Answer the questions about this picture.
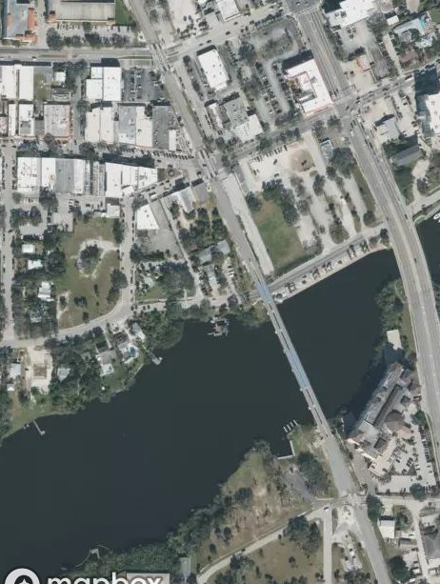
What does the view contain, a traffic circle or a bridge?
bridge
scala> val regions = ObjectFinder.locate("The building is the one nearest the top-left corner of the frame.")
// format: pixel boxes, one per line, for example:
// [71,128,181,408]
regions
[2,0,34,41]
